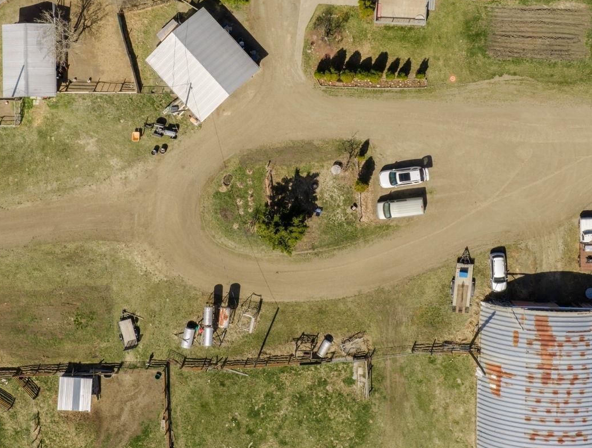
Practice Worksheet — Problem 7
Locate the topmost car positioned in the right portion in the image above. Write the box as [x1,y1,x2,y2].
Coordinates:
[380,166,430,190]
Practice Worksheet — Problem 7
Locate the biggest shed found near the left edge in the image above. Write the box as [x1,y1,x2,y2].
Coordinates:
[2,23,61,97]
